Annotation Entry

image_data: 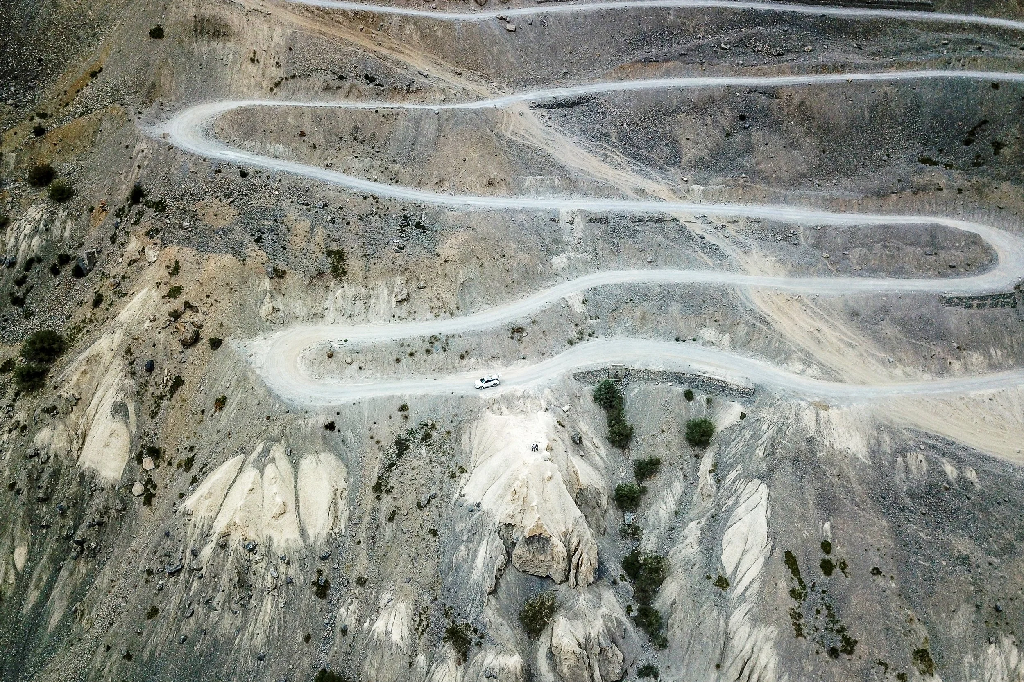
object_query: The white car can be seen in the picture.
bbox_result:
[474,371,505,390]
